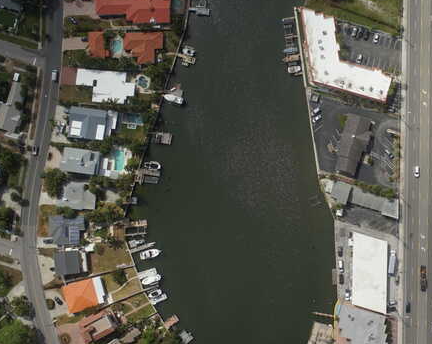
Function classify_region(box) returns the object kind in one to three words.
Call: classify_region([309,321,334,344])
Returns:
pier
